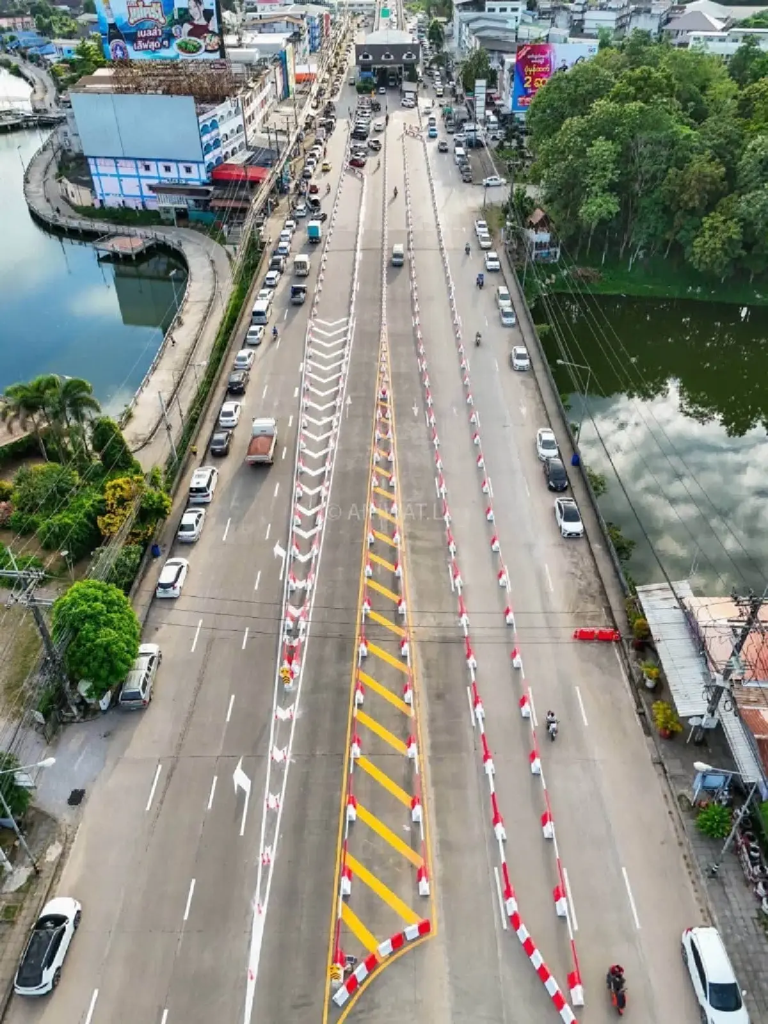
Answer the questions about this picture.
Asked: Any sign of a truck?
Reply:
Yes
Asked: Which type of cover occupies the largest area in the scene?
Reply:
paved ground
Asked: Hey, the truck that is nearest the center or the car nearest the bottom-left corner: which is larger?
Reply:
the car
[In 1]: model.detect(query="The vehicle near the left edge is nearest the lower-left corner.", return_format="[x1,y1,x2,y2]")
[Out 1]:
[10,895,82,1002]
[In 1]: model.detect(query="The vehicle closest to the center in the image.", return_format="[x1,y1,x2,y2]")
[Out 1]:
[245,414,277,460]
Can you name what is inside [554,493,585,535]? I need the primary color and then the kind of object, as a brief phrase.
white car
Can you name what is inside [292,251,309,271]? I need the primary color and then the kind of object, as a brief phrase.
white vehicle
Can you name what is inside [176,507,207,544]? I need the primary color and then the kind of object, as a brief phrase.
white car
